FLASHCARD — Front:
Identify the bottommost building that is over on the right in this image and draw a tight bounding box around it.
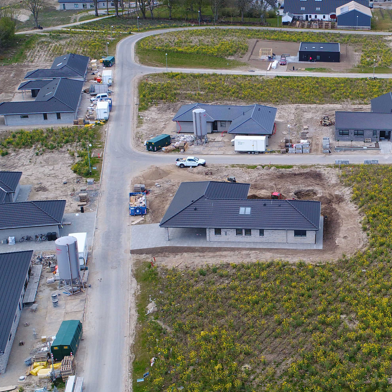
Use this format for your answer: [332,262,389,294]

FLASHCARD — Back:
[157,180,321,243]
